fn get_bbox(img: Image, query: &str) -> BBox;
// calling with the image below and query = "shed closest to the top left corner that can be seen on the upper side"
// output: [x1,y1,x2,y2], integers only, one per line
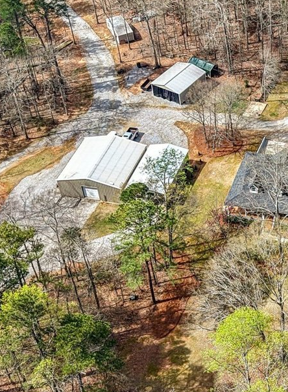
[110,14,134,45]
